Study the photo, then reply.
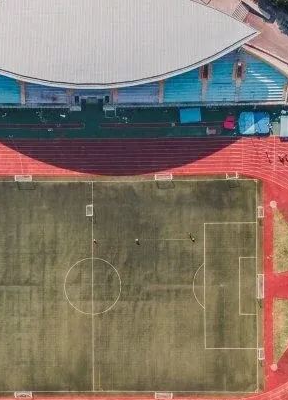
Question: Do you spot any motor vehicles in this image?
No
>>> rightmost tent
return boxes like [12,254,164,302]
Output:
[253,114,269,136]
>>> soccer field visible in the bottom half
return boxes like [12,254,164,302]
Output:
[0,175,264,399]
